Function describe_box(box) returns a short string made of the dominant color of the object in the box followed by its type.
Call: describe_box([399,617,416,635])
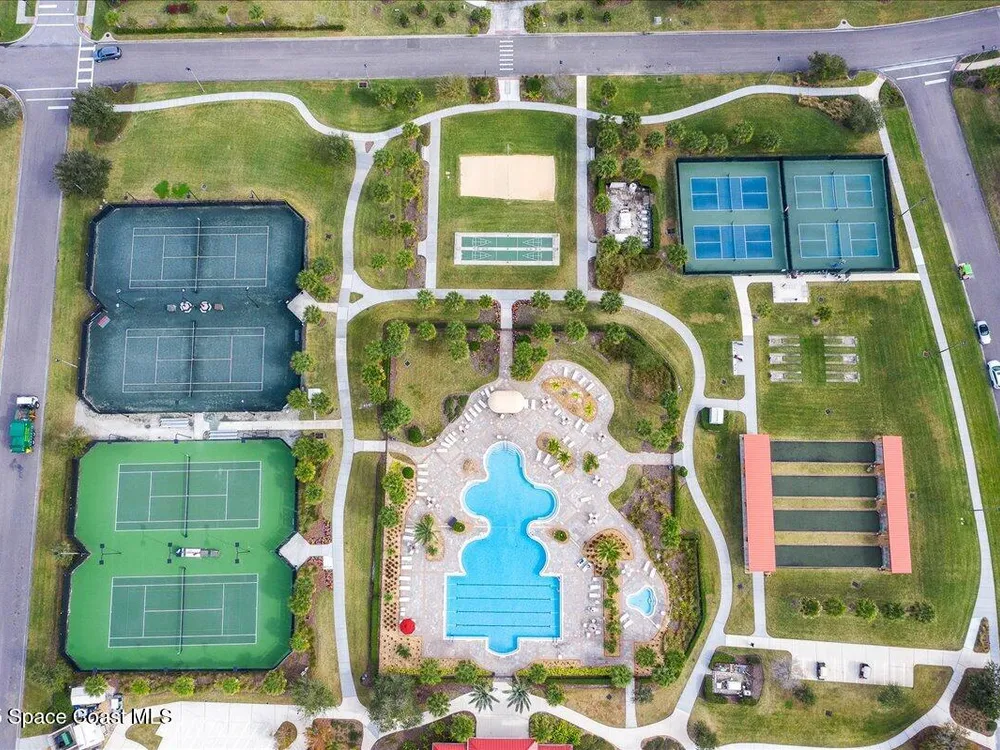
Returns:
red umbrella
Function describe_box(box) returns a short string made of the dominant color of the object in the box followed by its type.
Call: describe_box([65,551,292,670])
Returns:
green tennis court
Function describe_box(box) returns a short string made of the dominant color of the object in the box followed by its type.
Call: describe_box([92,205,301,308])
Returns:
blue tennis court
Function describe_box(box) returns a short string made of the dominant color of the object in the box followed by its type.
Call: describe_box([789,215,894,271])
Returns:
blue sports court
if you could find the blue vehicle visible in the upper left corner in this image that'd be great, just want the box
[93,45,119,60]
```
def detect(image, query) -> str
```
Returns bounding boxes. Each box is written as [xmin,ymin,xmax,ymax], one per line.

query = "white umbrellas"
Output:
[200,302,212,312]
[181,302,192,313]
